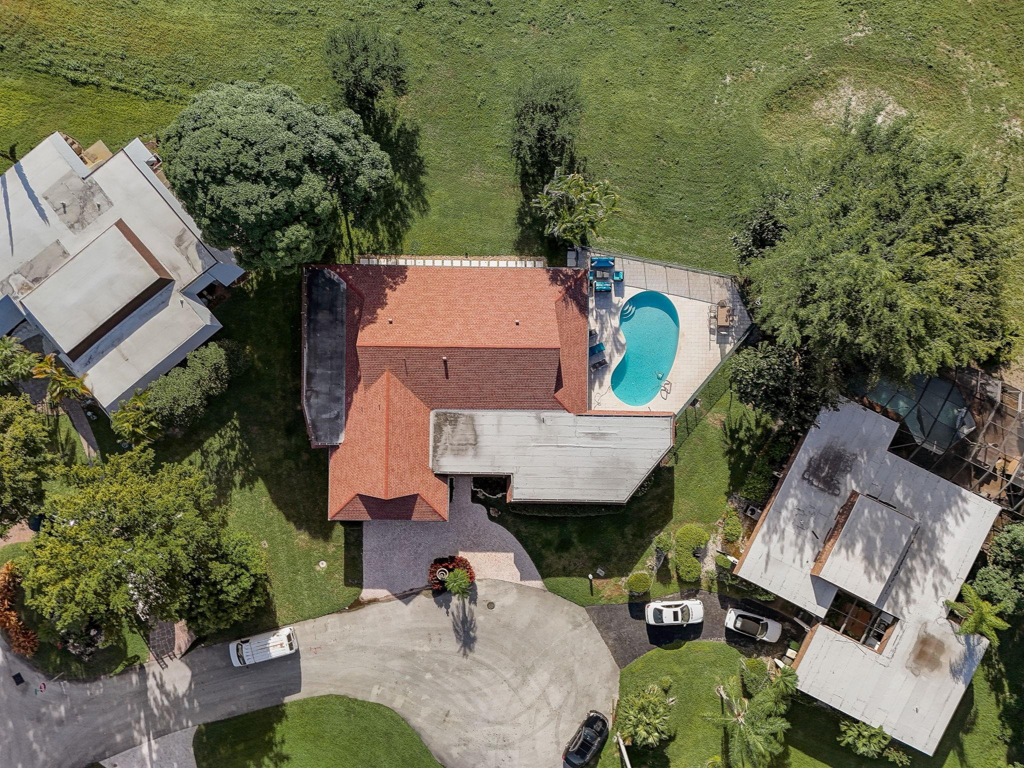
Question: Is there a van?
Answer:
Yes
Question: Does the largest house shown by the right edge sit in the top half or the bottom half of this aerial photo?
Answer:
bottom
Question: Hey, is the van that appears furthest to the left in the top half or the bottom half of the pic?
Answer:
bottom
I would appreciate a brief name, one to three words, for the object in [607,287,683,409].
swimming pool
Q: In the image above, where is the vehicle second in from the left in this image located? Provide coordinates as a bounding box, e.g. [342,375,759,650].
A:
[562,709,607,768]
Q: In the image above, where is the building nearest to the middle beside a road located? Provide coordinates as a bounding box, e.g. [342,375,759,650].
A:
[301,266,676,522]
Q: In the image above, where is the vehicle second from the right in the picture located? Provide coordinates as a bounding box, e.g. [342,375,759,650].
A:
[644,599,703,628]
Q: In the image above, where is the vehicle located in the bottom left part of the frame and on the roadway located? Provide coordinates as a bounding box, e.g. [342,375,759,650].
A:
[230,625,302,669]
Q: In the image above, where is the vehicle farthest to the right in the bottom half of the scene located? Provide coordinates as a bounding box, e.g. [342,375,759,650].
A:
[724,605,782,644]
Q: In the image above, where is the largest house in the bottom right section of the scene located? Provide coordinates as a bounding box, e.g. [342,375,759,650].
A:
[732,395,1001,756]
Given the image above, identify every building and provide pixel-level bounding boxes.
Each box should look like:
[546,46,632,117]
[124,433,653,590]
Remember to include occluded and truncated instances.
[0,132,238,422]
[732,395,1001,756]
[301,266,676,522]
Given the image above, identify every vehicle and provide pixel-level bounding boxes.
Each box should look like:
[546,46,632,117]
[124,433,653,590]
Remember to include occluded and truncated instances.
[230,625,302,669]
[644,599,703,628]
[562,709,607,768]
[724,605,782,644]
